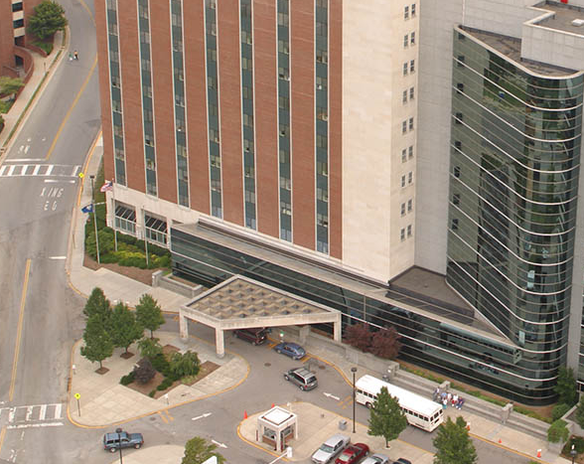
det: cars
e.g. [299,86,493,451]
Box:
[284,365,316,385]
[274,341,306,357]
[390,456,410,464]
[104,426,142,446]
[315,432,347,457]
[338,440,368,464]
[231,326,264,343]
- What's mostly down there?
buildings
